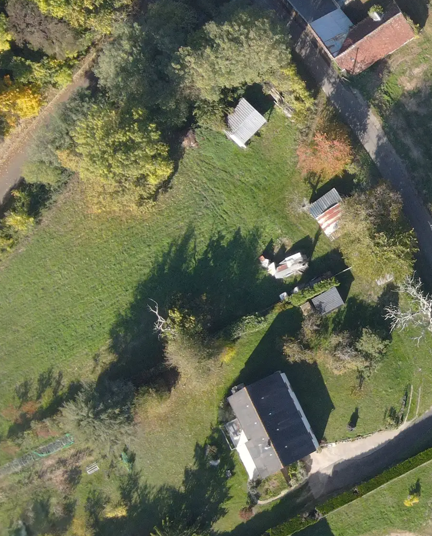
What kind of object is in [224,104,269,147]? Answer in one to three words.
shed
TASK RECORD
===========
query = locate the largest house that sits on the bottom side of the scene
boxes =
[228,374,323,480]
